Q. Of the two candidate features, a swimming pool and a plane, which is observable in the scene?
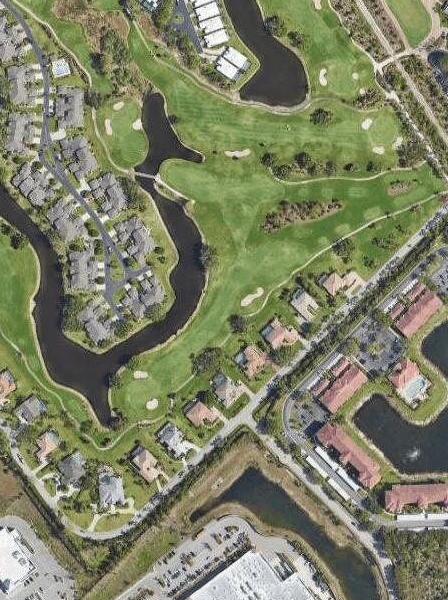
swimming pool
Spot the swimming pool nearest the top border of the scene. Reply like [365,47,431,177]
[53,60,70,76]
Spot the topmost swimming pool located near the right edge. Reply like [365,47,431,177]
[399,371,433,404]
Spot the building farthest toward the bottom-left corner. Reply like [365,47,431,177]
[0,529,37,591]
